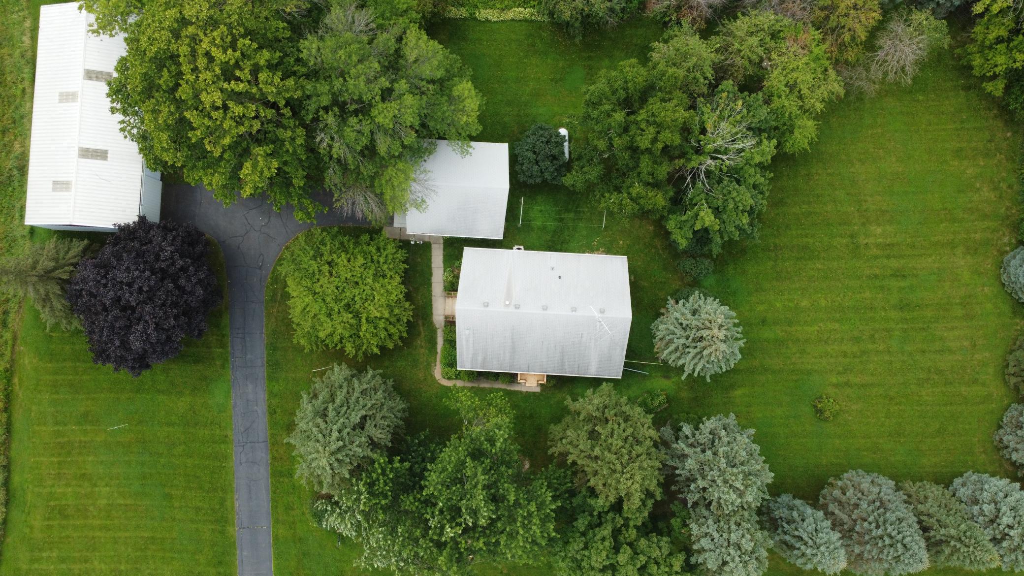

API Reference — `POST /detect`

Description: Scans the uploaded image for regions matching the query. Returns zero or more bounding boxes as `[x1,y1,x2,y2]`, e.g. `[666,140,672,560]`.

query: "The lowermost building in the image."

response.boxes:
[455,246,632,379]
